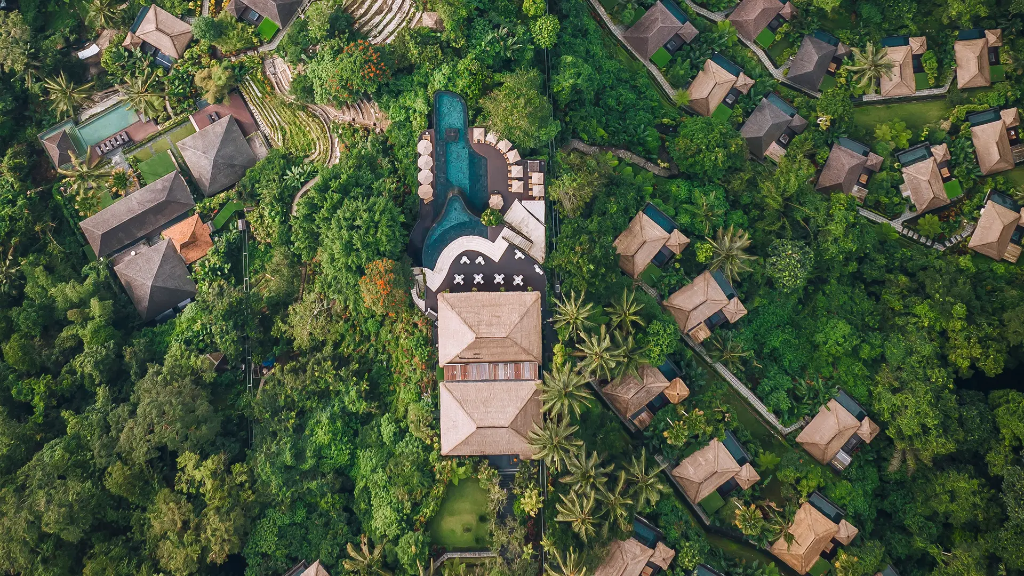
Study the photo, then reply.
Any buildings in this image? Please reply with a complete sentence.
Yes, this view includes a building.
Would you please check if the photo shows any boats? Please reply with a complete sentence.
No, I can see no boat in this picture.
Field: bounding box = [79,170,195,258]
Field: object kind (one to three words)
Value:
building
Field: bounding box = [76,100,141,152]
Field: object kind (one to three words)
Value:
swimming pool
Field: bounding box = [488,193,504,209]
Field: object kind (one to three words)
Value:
umbrella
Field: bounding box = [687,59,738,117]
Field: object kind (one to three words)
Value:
house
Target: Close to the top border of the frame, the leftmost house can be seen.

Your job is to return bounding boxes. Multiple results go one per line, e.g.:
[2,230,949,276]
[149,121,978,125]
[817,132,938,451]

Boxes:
[135,3,194,60]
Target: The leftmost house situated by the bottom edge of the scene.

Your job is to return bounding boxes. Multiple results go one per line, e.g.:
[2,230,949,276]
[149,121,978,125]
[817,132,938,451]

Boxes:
[593,536,655,576]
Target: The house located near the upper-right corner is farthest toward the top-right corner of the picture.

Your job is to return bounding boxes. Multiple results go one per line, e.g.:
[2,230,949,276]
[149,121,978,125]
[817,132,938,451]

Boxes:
[952,37,992,90]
